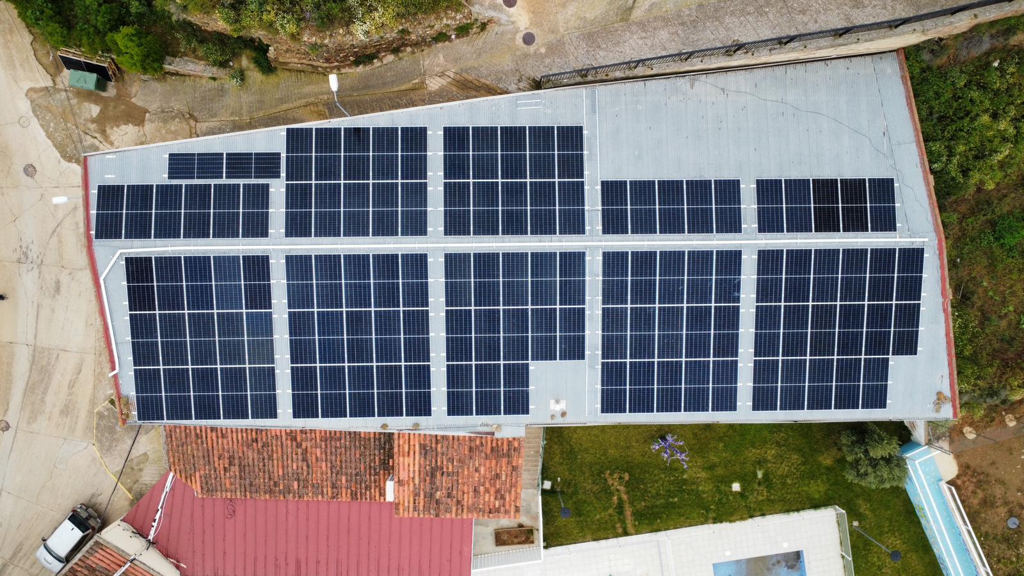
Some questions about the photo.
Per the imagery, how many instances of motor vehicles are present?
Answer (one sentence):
I count just 1 motor vehicle.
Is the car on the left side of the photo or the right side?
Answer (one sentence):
The car appears in the left half of the scene.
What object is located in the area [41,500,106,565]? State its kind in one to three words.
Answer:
car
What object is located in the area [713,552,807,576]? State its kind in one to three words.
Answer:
swimming pool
